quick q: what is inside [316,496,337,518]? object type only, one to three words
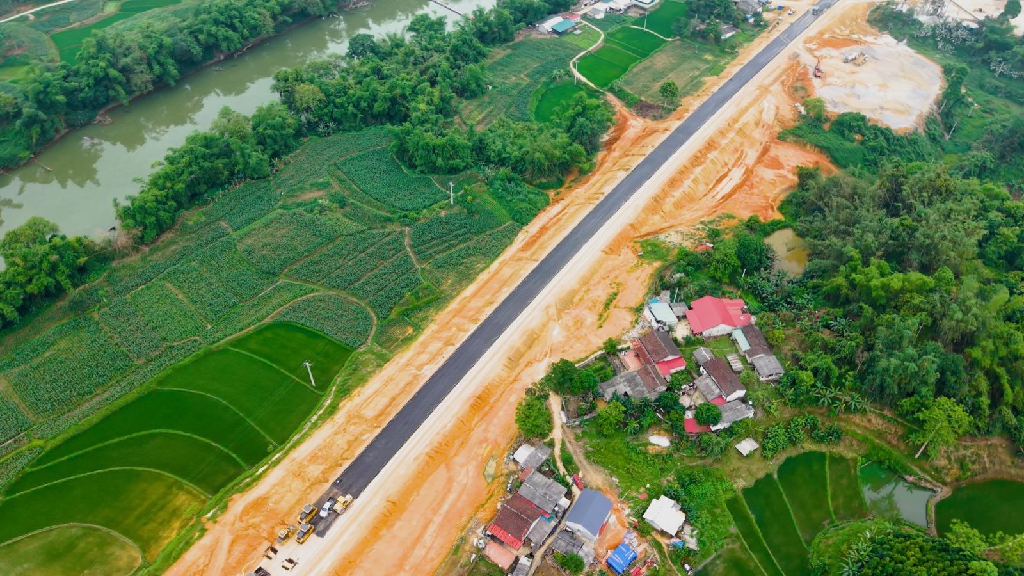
truck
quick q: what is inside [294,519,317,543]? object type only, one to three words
work vehicle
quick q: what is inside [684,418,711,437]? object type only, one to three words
shed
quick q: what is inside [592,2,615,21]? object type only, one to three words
house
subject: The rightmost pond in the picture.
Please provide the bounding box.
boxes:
[937,482,1024,546]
